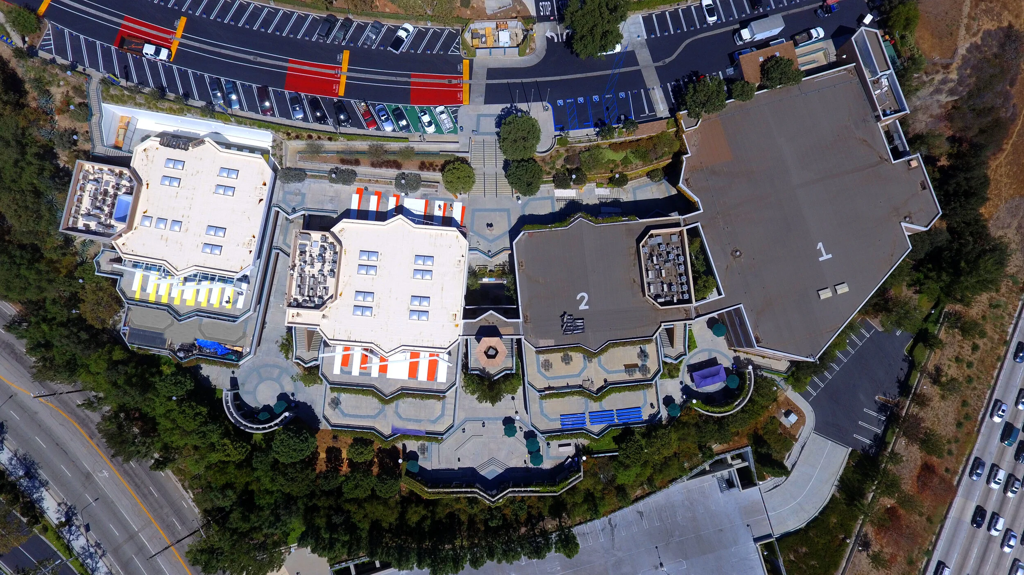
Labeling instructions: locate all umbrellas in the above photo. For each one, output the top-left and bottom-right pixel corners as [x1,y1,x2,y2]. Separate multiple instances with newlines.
[723,372,743,392]
[526,451,546,469]
[665,400,683,419]
[402,457,422,477]
[257,407,273,424]
[501,421,520,440]
[709,320,727,340]
[523,436,542,455]
[270,397,289,416]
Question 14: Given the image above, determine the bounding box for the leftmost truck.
[115,32,171,61]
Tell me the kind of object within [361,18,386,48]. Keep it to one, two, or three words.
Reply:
truck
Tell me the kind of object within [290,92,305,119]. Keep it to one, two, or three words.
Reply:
car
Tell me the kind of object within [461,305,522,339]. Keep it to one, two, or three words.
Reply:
building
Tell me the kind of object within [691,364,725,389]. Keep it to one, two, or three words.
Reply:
tent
